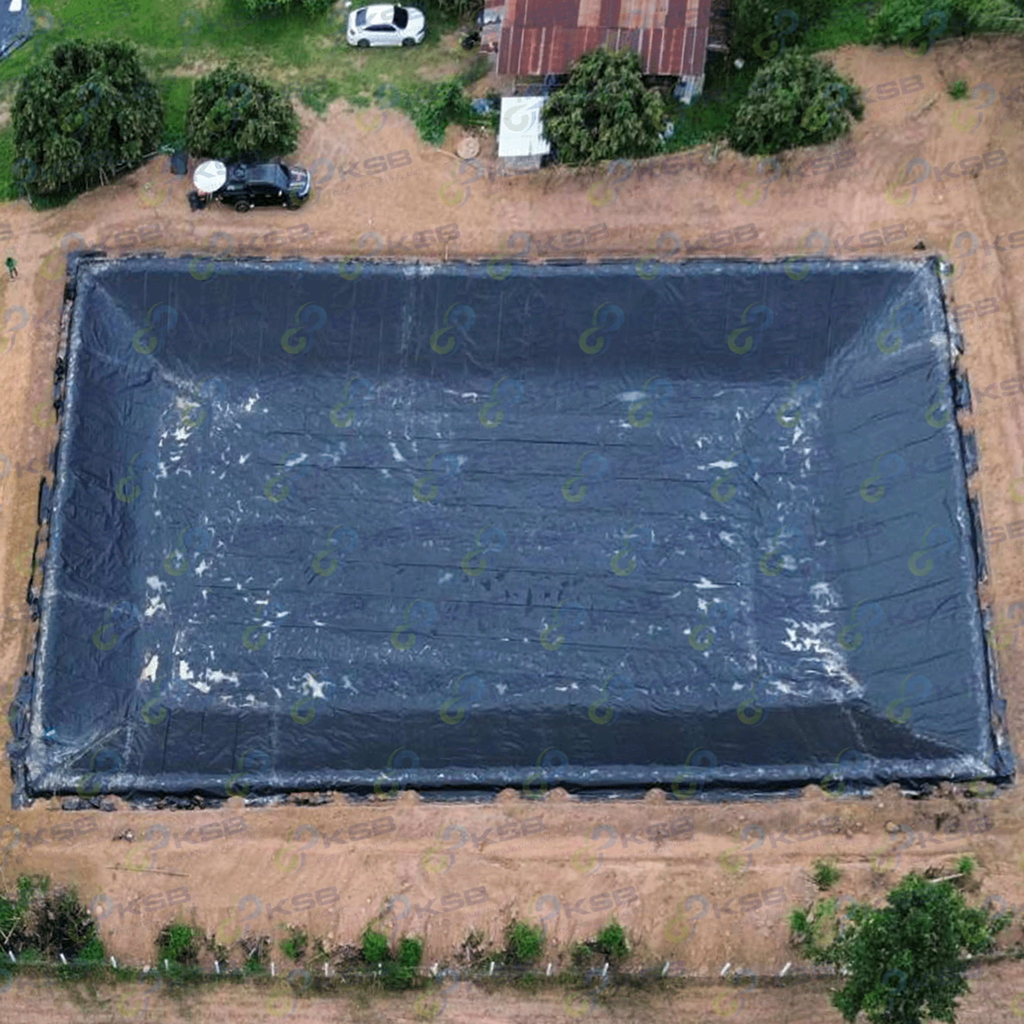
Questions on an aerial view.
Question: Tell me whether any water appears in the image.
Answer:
Yes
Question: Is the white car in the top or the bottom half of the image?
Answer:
top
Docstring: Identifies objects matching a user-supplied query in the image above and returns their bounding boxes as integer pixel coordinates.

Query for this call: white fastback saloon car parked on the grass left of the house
[346,0,426,47]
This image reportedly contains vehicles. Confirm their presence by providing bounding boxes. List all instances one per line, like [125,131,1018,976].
[346,0,426,47]
[458,29,478,56]
[213,158,314,211]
